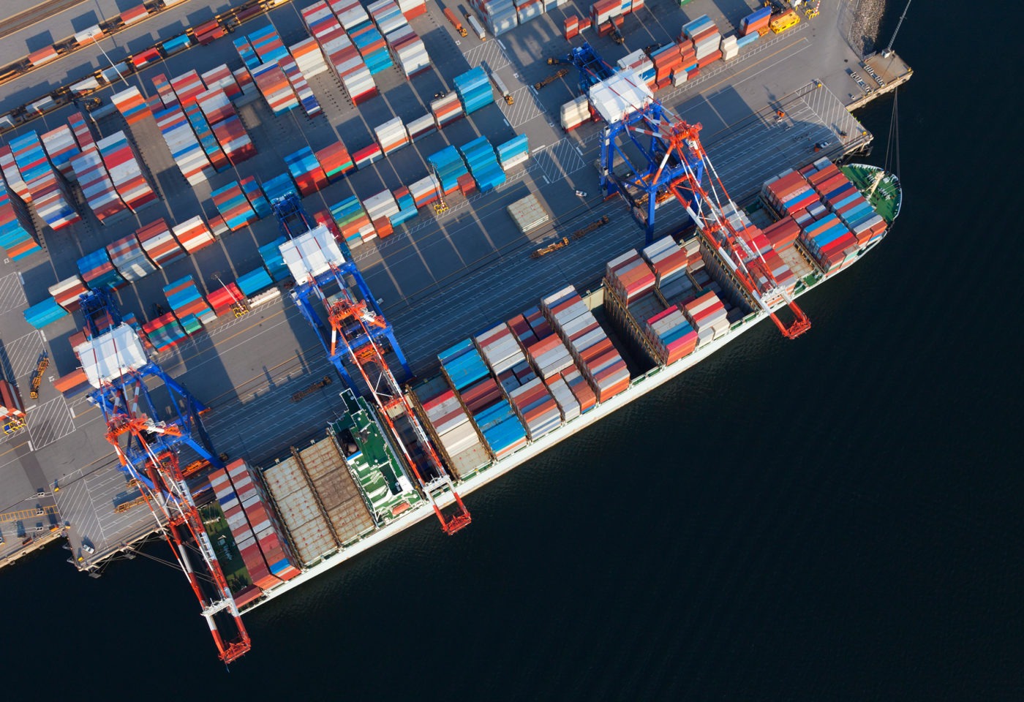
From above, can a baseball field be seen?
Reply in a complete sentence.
No, there appears to be no baseball field in this shot.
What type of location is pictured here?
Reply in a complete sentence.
What you see here is a port.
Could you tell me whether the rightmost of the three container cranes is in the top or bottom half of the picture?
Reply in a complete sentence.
The rightmost of the three container cranes is in the top half of the image.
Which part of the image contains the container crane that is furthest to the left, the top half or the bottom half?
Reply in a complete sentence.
It is in the bottom half that the container crane that is furthest to the left appears.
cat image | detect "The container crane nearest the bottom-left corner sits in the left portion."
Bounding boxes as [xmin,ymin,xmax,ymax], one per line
[71,277,255,667]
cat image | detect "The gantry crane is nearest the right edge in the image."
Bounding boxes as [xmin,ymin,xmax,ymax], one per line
[559,35,819,340]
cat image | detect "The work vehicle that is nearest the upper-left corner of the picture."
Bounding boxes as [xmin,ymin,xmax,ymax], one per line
[88,91,122,110]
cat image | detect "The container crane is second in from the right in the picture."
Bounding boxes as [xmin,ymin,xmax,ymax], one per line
[262,183,477,538]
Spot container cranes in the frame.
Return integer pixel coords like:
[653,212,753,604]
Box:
[71,277,255,667]
[559,35,819,340]
[262,183,477,538]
